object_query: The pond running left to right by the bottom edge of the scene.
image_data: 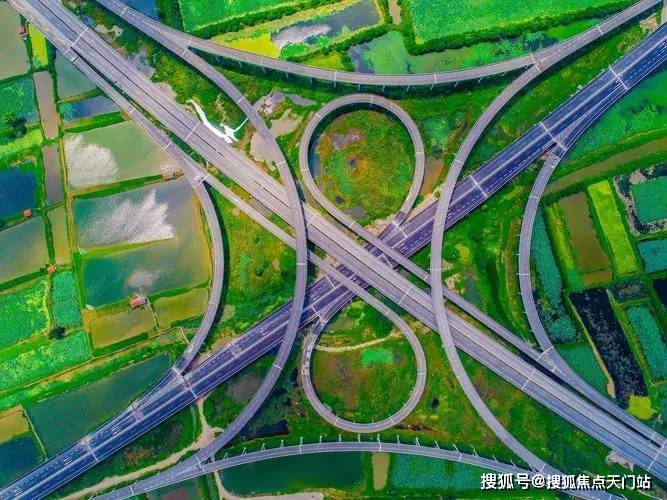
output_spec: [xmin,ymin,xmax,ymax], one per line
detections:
[391,457,528,490]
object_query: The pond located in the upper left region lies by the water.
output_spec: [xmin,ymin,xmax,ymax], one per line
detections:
[0,75,40,139]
